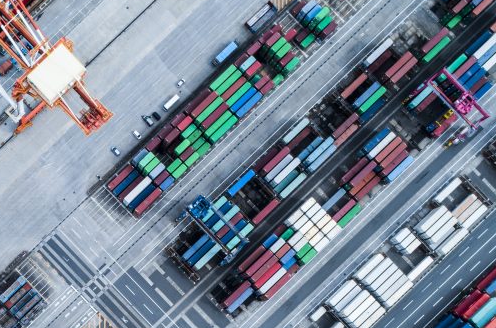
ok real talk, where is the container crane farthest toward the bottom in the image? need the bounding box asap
[170,196,248,273]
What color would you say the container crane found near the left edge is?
white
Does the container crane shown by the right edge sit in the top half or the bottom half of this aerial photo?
top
